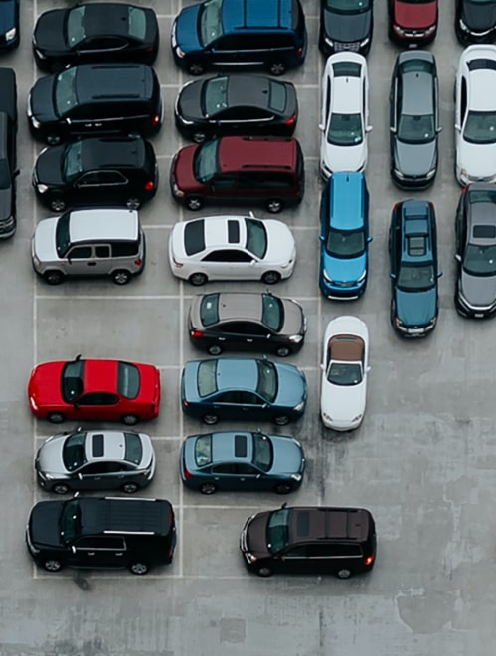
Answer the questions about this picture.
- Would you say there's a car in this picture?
Yes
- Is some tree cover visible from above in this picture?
No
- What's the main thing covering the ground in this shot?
paved ground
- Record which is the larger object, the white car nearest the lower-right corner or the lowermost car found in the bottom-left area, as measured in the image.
the lowermost car found in the bottom-left area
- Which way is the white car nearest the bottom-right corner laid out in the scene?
vertically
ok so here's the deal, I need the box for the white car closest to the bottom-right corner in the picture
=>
[318,315,373,432]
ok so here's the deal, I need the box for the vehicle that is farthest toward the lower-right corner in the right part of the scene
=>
[239,505,375,579]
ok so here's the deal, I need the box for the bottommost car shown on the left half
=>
[26,493,176,575]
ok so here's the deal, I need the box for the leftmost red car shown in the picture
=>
[27,351,162,425]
